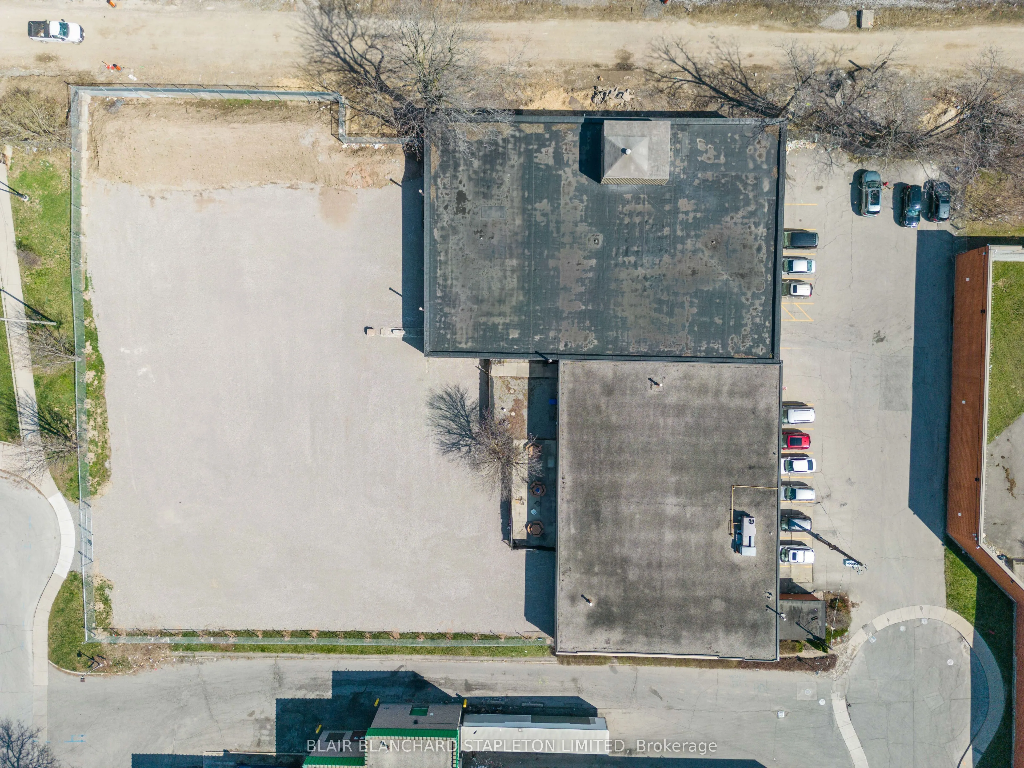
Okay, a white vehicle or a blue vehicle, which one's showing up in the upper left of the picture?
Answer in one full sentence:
Looking in the upper left of the picture, you will find a white vehicle.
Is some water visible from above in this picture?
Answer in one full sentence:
No, the scene doesn't show any water.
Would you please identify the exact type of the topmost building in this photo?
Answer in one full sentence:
The topmost building in the image is a warehouse.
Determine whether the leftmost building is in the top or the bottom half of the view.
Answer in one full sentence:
The bottom half of the photo is where the leftmost building is.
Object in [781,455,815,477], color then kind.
white car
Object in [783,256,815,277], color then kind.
white car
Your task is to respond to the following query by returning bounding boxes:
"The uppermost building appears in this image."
[423,114,788,364]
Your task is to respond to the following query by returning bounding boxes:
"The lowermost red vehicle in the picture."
[781,432,811,450]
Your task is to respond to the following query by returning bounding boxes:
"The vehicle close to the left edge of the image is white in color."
[22,15,81,43]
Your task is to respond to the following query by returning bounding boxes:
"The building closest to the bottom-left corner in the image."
[303,704,463,768]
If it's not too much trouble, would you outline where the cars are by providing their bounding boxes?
[926,180,953,225]
[780,543,817,566]
[782,279,815,301]
[783,256,815,277]
[782,405,817,427]
[860,172,885,219]
[781,455,815,477]
[784,228,821,252]
[900,184,925,230]
[781,483,818,504]
[781,432,811,450]
[781,513,814,535]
